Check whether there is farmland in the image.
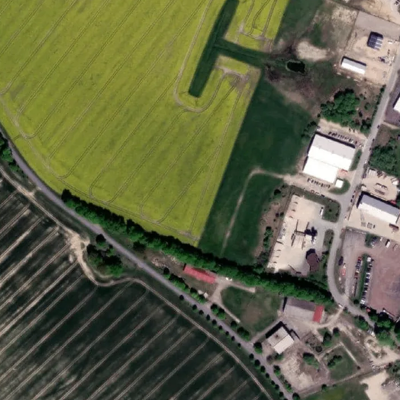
Yes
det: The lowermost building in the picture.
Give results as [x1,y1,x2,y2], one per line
[267,326,297,353]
